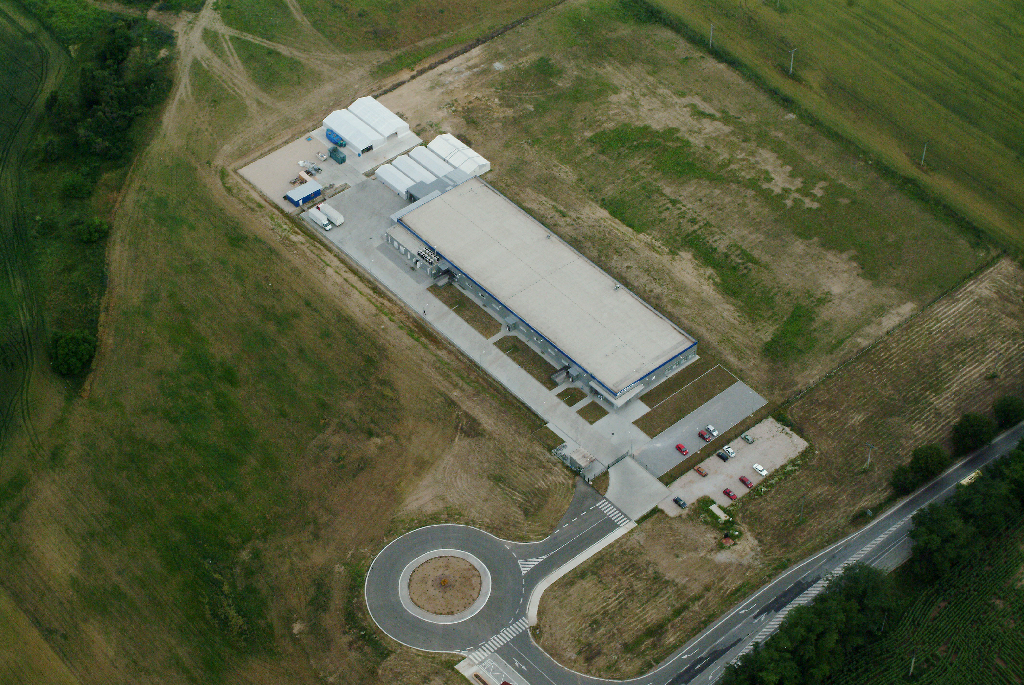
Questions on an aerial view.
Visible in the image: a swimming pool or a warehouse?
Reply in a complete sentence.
Looking from above, you can make out a warehouse.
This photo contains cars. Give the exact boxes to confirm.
[696,429,711,442]
[752,464,768,476]
[706,424,718,435]
[740,434,754,445]
[672,497,687,509]
[693,467,707,477]
[716,452,729,463]
[738,476,753,488]
[722,489,737,500]
[722,447,737,458]
[675,444,688,455]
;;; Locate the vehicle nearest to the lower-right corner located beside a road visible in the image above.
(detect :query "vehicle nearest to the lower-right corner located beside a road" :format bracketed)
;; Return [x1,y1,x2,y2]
[959,466,988,492]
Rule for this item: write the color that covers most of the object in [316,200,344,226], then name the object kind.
white truck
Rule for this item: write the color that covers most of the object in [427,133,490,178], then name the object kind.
white tent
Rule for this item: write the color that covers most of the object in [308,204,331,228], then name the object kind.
white truck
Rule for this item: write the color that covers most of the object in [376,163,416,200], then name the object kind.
white tent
